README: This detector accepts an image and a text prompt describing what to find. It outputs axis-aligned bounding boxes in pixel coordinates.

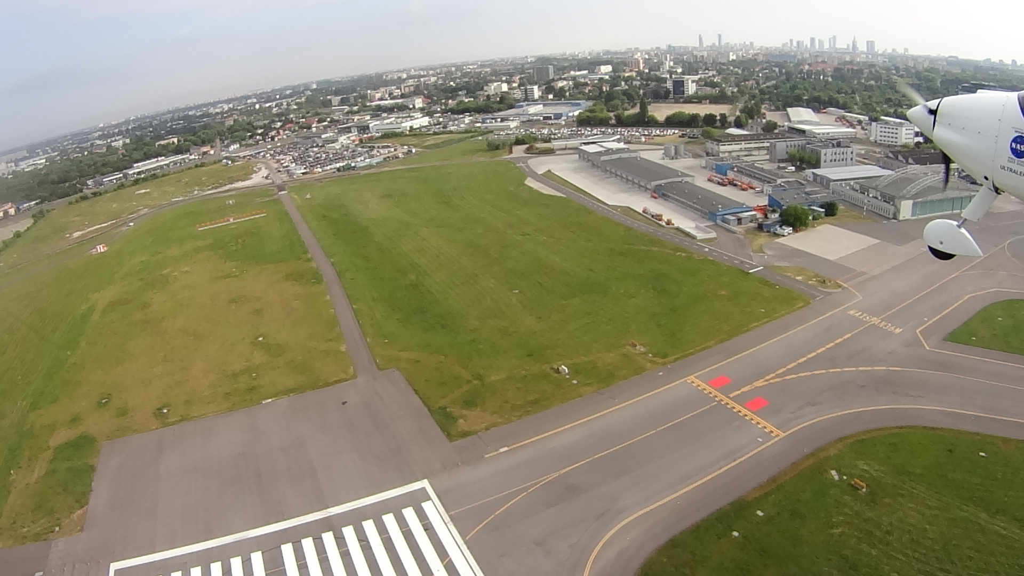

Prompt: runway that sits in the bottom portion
[76,448,548,576]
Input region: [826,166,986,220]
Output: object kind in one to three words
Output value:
hangar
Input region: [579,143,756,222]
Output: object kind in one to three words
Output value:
building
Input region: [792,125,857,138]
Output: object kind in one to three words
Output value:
building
